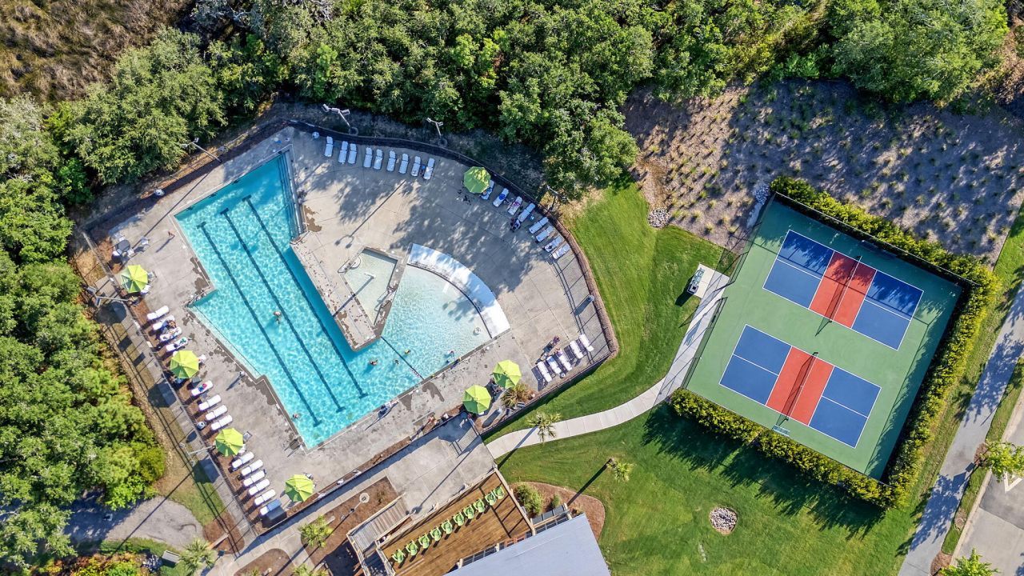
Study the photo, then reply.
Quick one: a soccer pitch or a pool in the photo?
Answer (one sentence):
Of the two, only a pool appears.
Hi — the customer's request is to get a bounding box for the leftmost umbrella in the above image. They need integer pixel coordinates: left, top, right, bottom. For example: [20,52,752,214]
[121,264,151,293]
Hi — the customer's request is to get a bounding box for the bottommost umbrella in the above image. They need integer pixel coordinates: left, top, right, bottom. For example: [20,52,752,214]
[287,473,315,502]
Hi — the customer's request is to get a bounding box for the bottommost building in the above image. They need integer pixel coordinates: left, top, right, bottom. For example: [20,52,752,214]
[440,502,610,576]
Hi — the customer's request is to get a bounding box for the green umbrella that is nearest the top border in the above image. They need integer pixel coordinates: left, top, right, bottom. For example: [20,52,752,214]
[463,166,492,195]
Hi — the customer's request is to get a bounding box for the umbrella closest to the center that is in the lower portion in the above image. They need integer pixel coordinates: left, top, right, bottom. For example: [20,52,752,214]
[493,360,521,388]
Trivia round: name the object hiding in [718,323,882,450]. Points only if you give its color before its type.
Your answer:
blue sports court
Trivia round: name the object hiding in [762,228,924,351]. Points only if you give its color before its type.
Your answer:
blue sports court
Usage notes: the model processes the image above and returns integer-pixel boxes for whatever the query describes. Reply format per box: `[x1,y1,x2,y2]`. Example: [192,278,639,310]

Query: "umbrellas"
[462,384,492,413]
[216,426,246,455]
[463,166,492,195]
[287,473,315,502]
[121,264,151,293]
[493,360,521,388]
[171,348,200,378]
